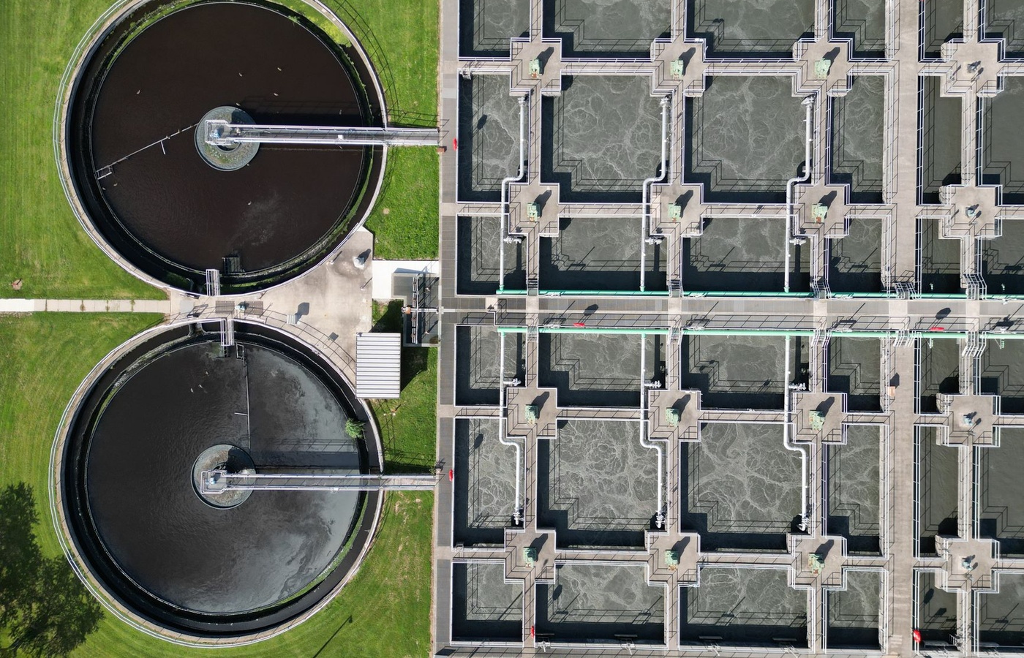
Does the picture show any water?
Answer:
Yes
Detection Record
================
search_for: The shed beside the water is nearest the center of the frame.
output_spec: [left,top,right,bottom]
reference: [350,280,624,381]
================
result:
[356,333,404,399]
